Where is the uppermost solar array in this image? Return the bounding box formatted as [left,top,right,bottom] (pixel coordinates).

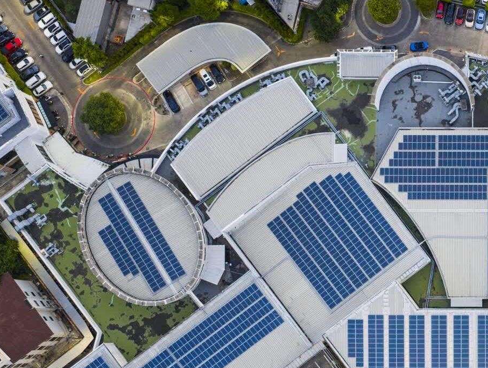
[0,98,14,123]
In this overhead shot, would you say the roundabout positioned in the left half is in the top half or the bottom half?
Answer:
top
